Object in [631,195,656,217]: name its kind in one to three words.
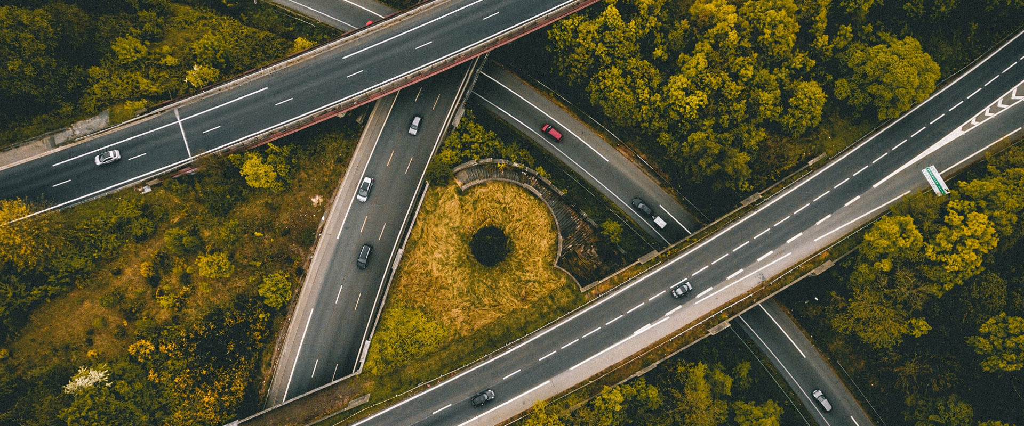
car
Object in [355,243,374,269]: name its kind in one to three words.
car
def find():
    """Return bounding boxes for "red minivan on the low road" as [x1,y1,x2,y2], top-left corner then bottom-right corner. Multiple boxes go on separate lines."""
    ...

[541,123,565,143]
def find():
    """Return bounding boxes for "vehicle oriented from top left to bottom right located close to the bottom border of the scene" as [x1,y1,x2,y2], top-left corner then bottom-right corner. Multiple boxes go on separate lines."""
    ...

[812,390,837,416]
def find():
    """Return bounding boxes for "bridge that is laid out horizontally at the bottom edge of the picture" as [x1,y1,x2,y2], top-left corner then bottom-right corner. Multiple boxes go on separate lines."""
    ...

[217,371,378,426]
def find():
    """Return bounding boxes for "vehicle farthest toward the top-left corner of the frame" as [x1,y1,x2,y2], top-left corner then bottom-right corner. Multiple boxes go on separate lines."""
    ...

[92,148,120,165]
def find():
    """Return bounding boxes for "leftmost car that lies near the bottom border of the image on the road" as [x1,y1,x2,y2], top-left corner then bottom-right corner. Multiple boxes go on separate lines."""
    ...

[470,390,495,409]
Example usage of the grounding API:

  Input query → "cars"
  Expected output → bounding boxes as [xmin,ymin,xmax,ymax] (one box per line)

[406,115,422,135]
[670,280,694,299]
[92,148,120,165]
[470,390,495,409]
[631,195,656,217]
[812,390,837,416]
[354,175,376,202]
[541,123,565,143]
[355,243,374,269]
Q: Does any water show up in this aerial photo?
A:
No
